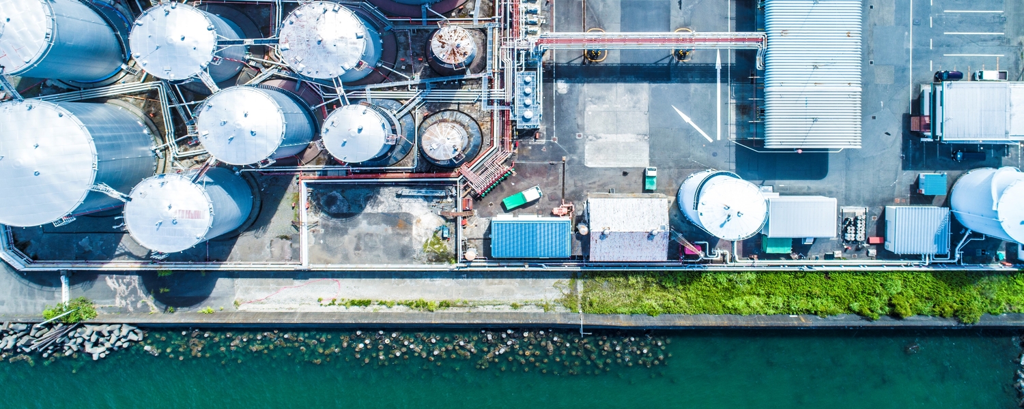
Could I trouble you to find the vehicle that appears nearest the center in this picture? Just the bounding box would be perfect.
[501,184,542,213]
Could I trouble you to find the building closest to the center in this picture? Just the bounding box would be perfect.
[488,213,571,258]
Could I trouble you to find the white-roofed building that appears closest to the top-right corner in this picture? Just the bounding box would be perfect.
[901,81,1024,144]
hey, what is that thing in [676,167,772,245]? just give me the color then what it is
white storage tank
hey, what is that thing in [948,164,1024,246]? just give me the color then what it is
white storage tank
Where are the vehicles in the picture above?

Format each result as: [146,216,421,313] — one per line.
[950,149,988,162]
[932,69,964,81]
[972,69,1007,81]
[643,167,656,191]
[501,184,542,213]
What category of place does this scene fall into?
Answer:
industrial area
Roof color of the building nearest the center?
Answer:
blue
